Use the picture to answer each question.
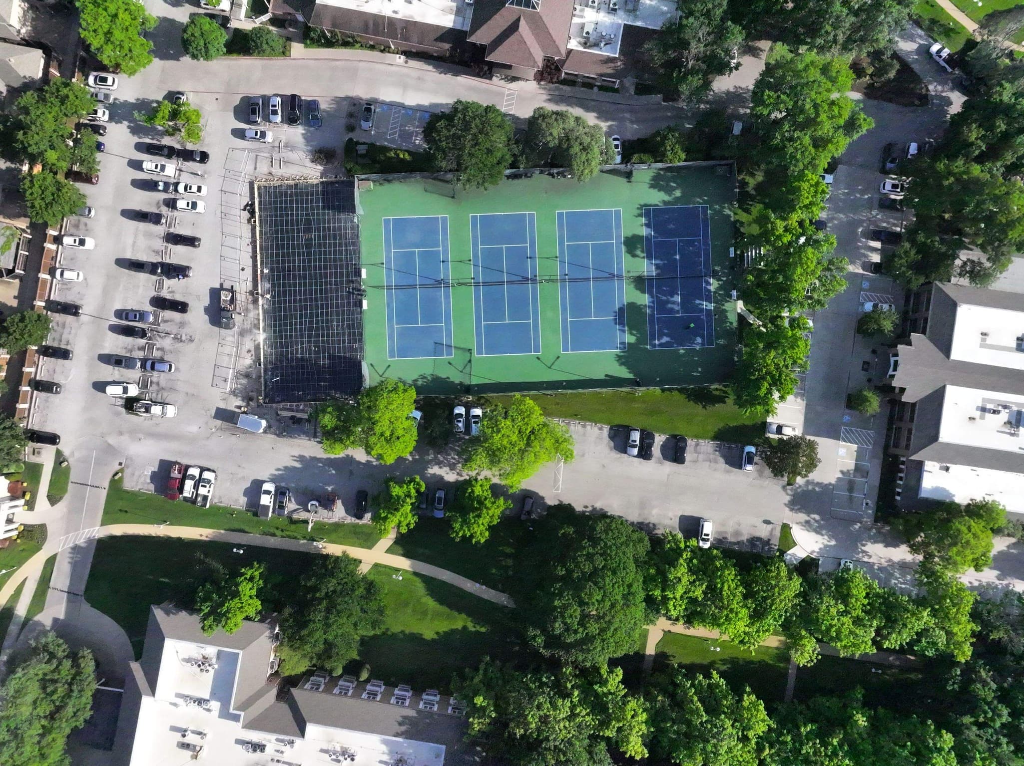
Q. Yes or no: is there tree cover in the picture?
Yes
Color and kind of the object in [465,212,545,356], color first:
blue tennis court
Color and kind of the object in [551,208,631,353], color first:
blue tennis court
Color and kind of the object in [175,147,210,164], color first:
black vehicle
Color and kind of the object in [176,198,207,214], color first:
white car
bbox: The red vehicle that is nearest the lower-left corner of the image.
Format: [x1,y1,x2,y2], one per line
[167,462,186,501]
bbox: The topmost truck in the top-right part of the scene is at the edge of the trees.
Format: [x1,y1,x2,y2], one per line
[926,39,955,74]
